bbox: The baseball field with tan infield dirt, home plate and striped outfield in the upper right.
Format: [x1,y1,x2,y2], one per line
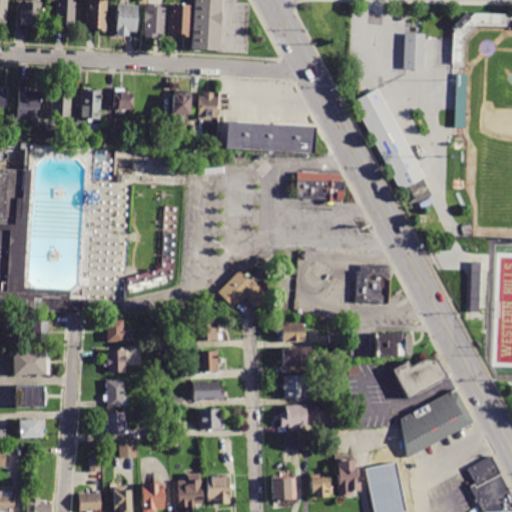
[463,28,512,236]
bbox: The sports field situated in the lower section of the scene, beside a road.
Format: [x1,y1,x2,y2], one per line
[486,240,512,382]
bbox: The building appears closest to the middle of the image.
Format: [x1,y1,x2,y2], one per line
[218,272,263,305]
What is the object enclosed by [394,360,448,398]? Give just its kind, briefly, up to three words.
building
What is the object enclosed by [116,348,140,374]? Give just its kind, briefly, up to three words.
house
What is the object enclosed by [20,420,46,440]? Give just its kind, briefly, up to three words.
house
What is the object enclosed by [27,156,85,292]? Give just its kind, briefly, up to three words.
swimming pool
